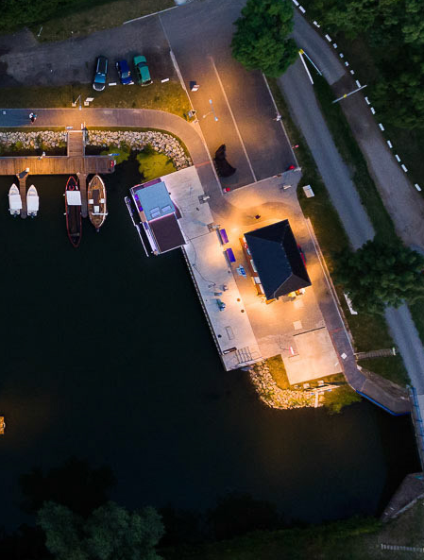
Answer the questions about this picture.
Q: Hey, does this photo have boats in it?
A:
Yes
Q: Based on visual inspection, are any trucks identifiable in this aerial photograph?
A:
No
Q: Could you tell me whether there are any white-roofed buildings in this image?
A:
No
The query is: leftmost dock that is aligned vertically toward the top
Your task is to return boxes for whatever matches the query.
[13,175,30,218]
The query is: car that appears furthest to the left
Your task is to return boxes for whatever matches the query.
[91,55,108,91]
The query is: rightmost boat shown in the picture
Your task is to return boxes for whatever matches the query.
[89,172,107,233]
